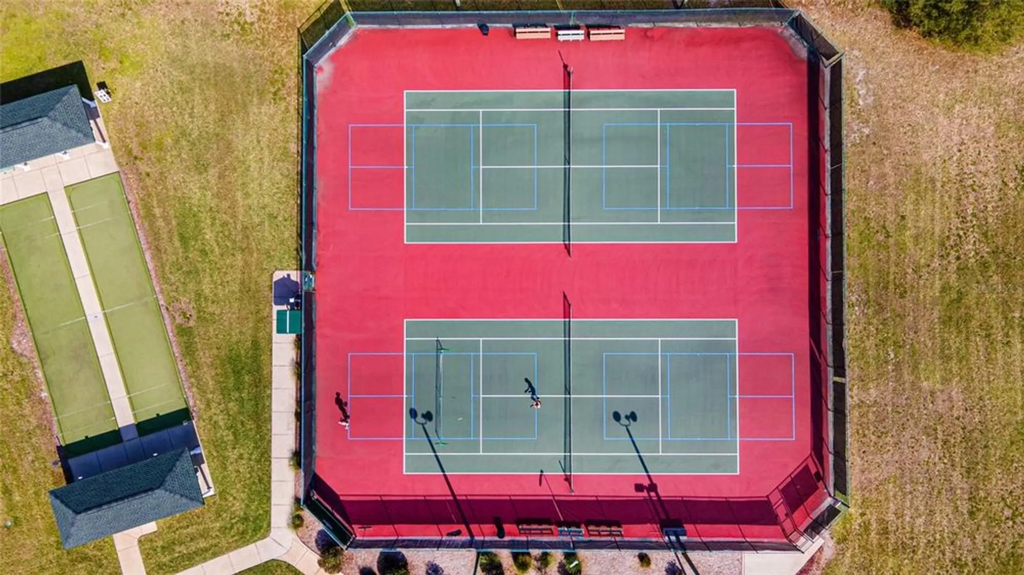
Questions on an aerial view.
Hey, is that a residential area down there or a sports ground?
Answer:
sports ground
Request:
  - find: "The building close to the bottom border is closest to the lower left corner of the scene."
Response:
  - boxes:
[48,447,213,548]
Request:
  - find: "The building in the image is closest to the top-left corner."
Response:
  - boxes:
[0,85,107,172]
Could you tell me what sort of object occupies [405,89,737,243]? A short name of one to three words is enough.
tennis court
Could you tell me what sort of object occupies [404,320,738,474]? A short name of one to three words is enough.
tennis court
